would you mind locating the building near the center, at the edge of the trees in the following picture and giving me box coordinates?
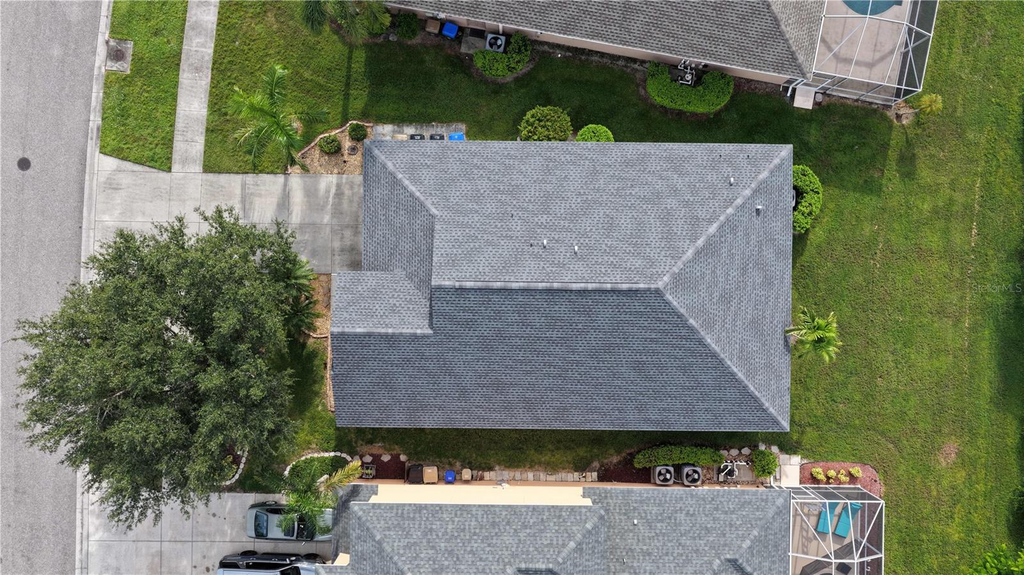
[328,139,794,435]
